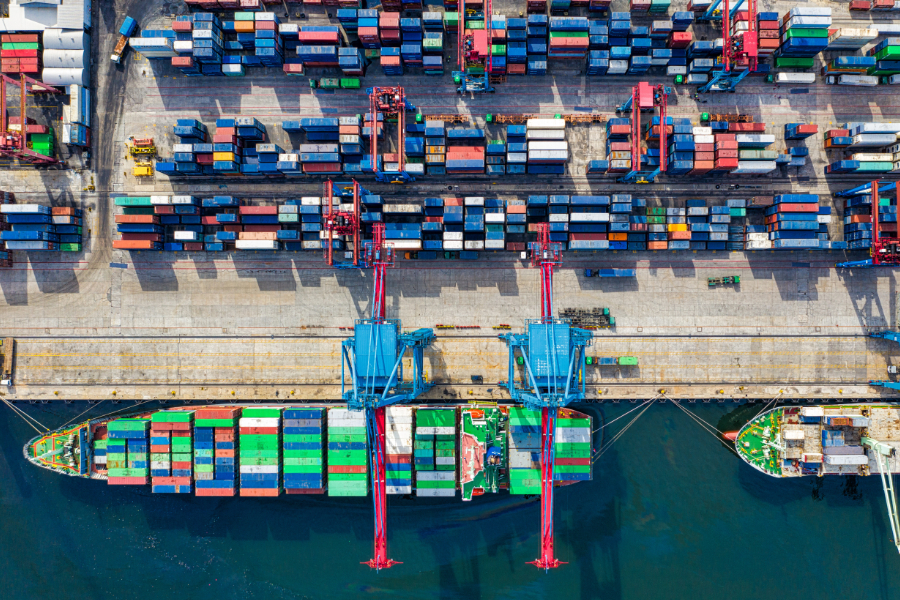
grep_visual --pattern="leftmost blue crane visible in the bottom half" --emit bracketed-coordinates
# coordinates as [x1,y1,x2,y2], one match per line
[336,221,436,575]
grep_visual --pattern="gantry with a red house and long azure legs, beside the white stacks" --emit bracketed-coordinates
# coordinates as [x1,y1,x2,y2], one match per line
[692,0,753,92]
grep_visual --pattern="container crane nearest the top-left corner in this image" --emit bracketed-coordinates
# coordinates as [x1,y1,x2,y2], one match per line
[0,72,72,170]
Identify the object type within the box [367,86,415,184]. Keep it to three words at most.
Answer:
container crane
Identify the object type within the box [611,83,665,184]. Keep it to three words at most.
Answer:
container crane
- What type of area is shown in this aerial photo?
port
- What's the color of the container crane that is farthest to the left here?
red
